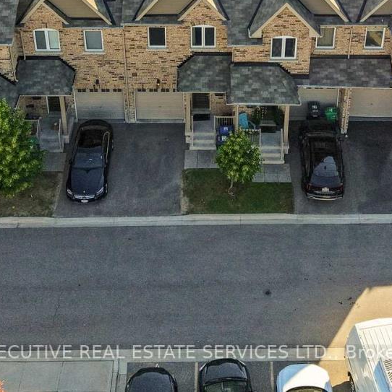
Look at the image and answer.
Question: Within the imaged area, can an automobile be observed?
Yes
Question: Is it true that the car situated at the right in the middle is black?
Yes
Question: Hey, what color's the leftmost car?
black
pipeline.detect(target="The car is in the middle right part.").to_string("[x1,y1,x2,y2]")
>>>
[294,117,347,191]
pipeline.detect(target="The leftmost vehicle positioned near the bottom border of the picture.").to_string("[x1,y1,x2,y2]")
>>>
[123,359,180,392]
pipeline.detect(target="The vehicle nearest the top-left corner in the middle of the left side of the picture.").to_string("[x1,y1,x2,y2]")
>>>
[62,117,114,194]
